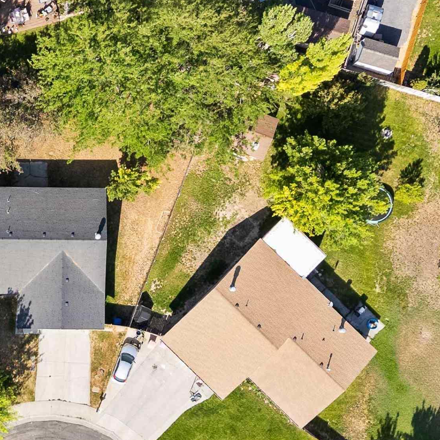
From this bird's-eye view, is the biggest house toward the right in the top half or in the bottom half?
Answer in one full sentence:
It is in the bottom half that the biggest house toward the right appears.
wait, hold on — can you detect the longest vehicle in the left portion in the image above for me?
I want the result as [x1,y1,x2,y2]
[111,336,139,385]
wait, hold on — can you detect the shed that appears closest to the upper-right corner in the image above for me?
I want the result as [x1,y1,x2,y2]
[349,38,400,77]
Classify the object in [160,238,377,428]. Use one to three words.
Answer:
house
